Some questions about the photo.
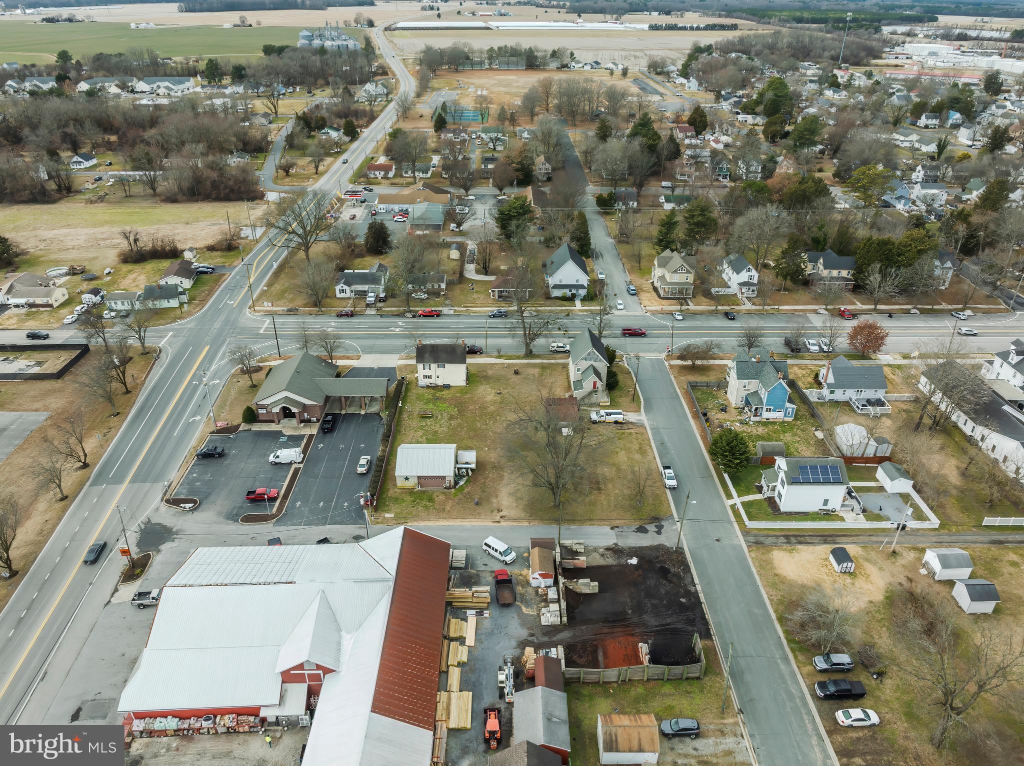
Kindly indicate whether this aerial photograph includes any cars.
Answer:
Yes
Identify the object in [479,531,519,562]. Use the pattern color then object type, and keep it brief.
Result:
white van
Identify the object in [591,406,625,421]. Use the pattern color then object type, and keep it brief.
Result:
white vehicle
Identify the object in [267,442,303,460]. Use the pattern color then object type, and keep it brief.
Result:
white vehicle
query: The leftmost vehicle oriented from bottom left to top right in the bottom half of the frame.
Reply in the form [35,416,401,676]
[73,536,112,563]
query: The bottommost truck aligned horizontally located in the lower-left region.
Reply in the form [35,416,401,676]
[117,583,163,605]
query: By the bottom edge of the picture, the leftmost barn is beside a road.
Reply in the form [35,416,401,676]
[105,520,451,766]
